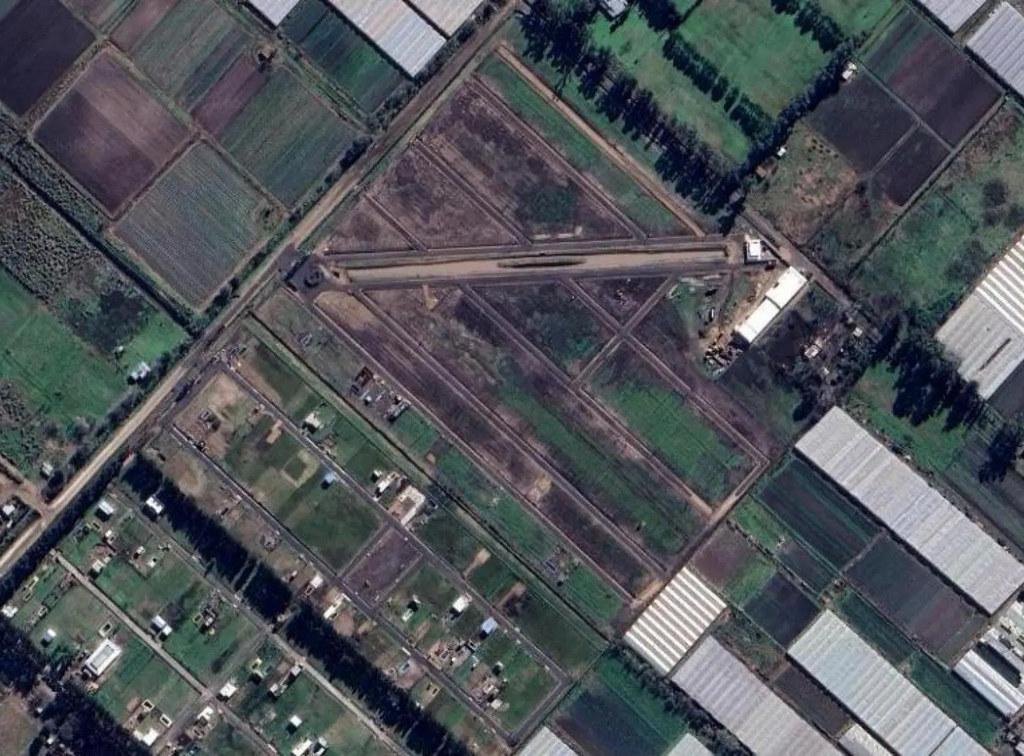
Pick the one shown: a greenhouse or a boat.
greenhouse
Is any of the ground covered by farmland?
Yes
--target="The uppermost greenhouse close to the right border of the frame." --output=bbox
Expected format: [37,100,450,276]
[922,0,984,31]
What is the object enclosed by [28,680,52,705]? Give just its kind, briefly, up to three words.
barn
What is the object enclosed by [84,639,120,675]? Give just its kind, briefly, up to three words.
house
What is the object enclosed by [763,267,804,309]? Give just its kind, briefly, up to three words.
building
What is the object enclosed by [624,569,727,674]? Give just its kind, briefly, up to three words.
greenhouse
